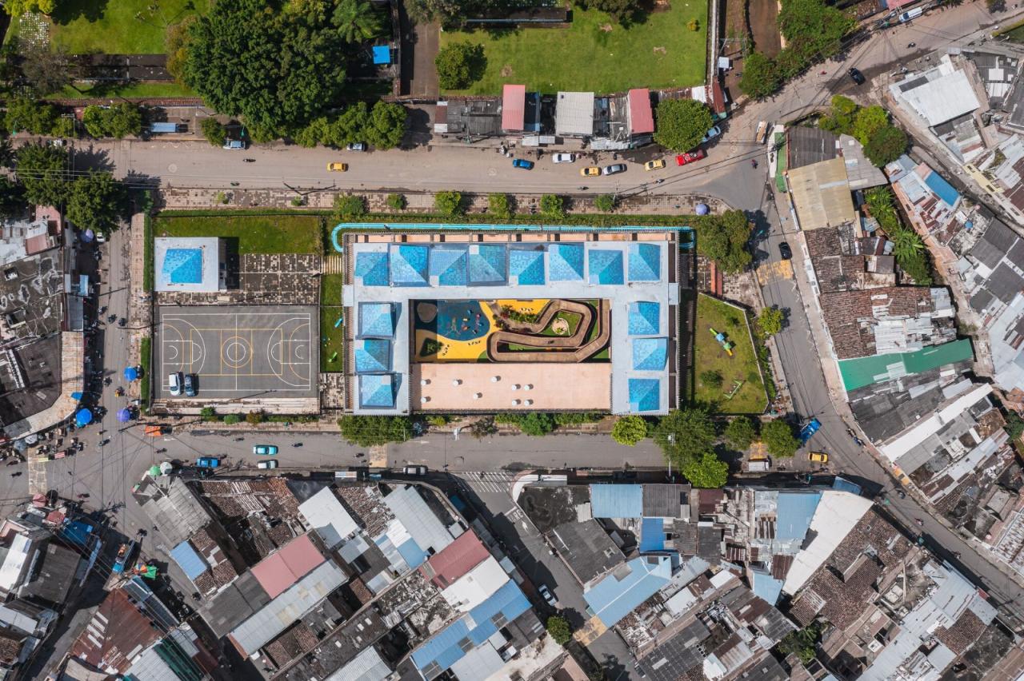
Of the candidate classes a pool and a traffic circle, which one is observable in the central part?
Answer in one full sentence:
It is a pool that can be seen in the central part.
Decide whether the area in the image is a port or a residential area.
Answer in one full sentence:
It's a residential area.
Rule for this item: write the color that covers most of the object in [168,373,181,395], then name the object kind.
white vehicle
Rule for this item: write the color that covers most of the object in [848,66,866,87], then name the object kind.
black car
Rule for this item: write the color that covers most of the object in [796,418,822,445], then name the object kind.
blue truck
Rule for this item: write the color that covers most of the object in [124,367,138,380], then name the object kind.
blue umbrella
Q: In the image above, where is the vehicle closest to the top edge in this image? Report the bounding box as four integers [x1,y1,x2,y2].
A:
[897,5,924,23]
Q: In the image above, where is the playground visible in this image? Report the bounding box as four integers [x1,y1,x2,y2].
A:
[413,301,549,364]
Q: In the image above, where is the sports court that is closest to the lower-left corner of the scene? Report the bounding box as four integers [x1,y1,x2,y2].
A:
[153,305,318,397]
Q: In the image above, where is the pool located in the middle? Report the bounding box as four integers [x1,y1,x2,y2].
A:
[413,301,489,340]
